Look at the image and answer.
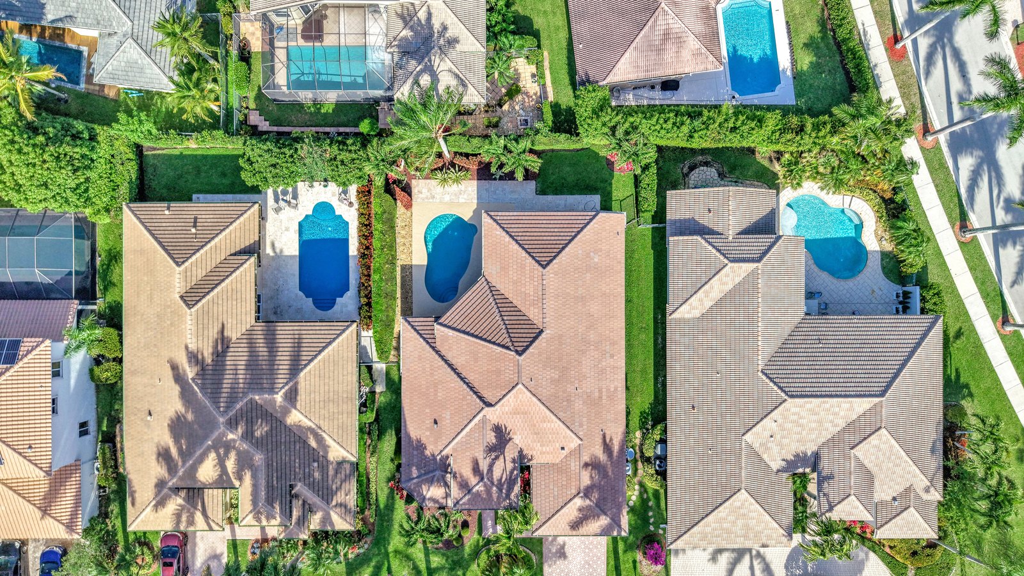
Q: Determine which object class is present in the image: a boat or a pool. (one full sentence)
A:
There is a pool in the scene.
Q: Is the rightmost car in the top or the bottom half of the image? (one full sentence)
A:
Seen from above, the rightmost car lies in the bottom half of the view.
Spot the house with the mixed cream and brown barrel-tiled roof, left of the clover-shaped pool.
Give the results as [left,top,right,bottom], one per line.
[665,187,946,550]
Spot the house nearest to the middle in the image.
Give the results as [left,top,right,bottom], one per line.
[400,210,629,537]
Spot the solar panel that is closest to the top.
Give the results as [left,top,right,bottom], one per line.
[0,339,26,374]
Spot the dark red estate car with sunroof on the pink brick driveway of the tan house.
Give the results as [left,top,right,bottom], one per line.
[159,533,192,576]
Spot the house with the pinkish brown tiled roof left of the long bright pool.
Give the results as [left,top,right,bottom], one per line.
[566,0,724,89]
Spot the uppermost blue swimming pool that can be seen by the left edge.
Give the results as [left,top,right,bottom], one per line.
[0,30,87,91]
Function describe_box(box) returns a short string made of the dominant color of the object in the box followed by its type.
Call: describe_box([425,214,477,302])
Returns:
blue swimming pool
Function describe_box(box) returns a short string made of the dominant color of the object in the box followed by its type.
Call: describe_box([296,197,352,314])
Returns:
blue swimming pool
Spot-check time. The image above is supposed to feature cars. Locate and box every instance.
[38,544,68,576]
[159,533,192,576]
[0,542,30,576]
